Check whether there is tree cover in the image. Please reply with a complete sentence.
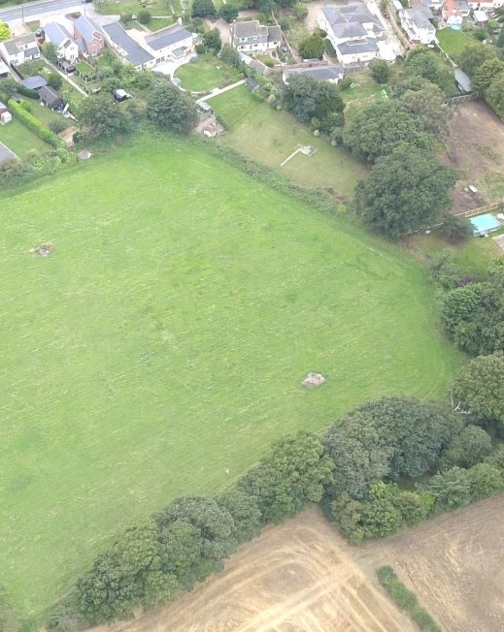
Yes, tree cover can be seen from above here.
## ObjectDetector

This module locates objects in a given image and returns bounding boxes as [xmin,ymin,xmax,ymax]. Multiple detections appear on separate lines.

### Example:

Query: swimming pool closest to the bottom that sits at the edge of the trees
[469,213,501,231]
